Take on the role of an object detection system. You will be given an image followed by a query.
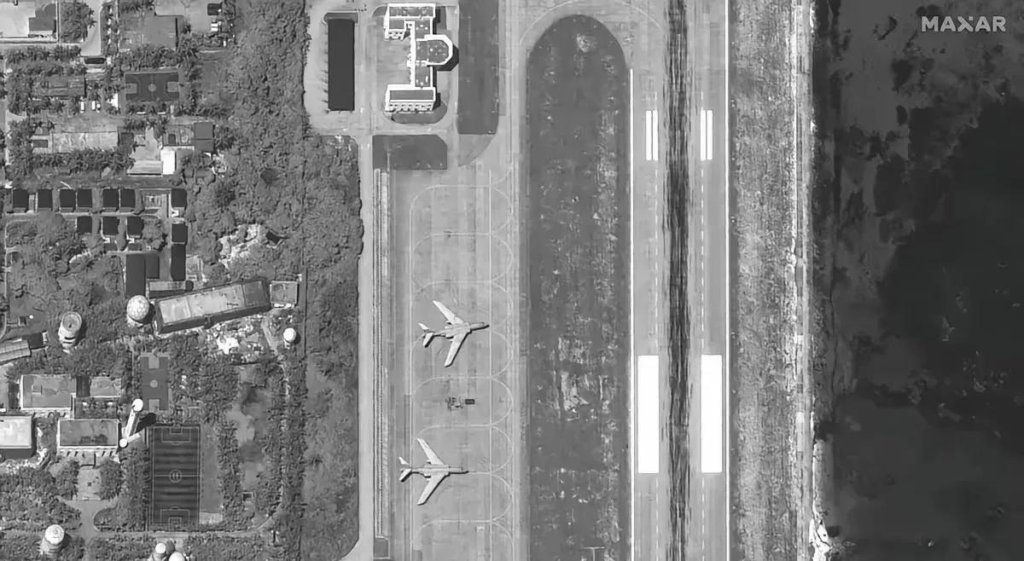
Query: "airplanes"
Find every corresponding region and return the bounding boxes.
[398,438,468,505]
[418,302,488,367]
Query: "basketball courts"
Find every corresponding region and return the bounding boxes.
[141,354,169,411]
[124,72,180,101]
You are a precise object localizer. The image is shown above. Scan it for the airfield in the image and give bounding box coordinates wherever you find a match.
[305,0,730,561]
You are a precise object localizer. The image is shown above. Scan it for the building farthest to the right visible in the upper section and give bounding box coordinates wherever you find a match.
[386,3,453,113]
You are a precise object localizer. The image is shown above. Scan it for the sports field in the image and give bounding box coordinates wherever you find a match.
[147,424,199,529]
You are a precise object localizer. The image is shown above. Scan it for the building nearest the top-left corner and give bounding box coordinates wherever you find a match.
[28,3,55,33]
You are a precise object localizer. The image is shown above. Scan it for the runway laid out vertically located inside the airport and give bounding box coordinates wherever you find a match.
[629,0,730,561]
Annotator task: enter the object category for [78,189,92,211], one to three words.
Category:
house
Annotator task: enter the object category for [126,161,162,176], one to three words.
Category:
building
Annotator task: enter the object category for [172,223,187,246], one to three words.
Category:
house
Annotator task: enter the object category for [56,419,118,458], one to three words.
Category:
building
